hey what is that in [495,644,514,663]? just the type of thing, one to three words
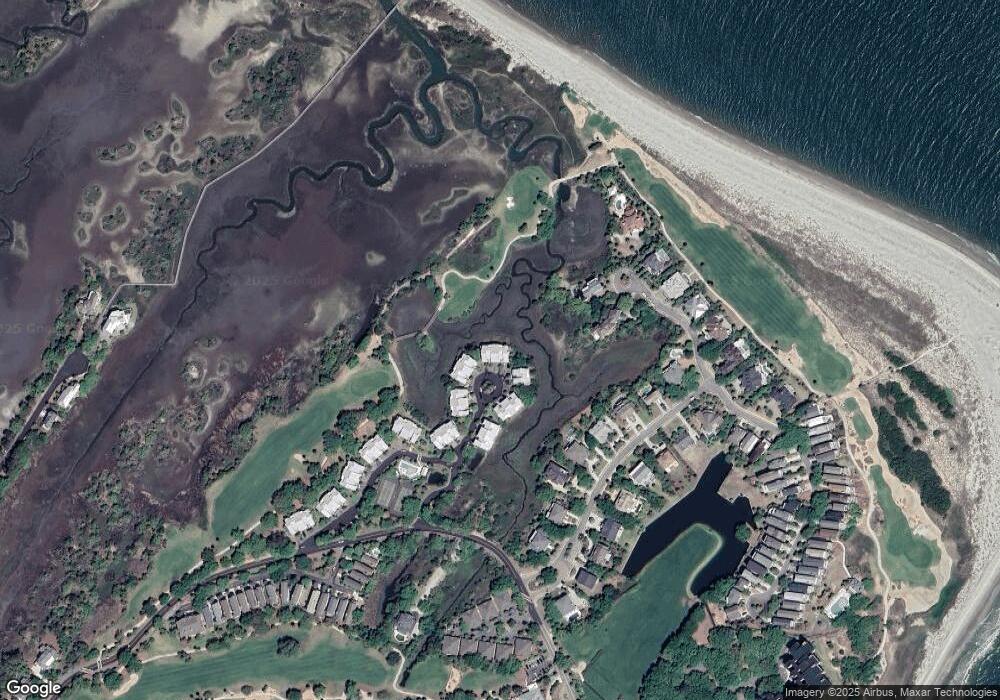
house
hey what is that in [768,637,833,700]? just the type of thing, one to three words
building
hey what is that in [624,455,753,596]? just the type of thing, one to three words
pond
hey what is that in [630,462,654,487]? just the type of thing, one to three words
house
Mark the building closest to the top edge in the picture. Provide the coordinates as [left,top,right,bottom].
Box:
[617,209,646,237]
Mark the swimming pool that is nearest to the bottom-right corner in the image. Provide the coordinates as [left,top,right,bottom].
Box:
[825,588,850,618]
